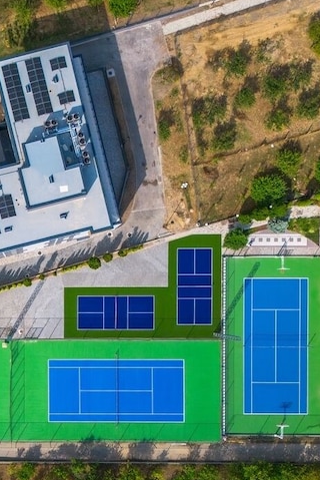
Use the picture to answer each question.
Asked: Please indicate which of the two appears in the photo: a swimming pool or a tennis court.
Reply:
tennis court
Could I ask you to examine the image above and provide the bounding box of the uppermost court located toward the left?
[65,287,168,338]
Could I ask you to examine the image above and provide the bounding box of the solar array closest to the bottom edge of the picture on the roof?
[0,194,17,219]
